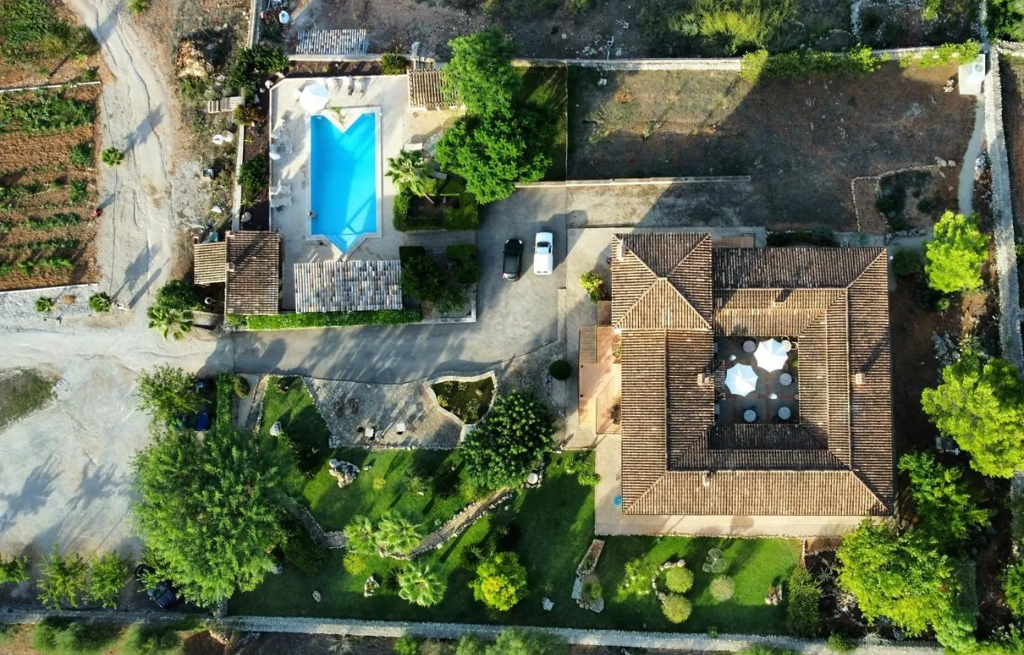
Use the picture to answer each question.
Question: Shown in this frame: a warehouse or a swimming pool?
swimming pool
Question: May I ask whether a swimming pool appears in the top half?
Yes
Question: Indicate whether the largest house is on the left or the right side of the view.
right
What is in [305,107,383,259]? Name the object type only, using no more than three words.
swimming pool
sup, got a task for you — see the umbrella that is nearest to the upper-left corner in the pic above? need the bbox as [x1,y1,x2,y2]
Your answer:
[300,84,331,114]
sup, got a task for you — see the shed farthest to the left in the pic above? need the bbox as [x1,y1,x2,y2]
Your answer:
[192,229,283,313]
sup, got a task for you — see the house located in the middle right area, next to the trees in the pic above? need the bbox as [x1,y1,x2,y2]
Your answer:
[610,231,897,517]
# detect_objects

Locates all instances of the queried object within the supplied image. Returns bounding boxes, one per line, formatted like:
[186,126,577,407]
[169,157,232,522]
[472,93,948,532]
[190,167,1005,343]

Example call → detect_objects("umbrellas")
[753,338,786,372]
[727,364,755,395]
[300,84,331,114]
